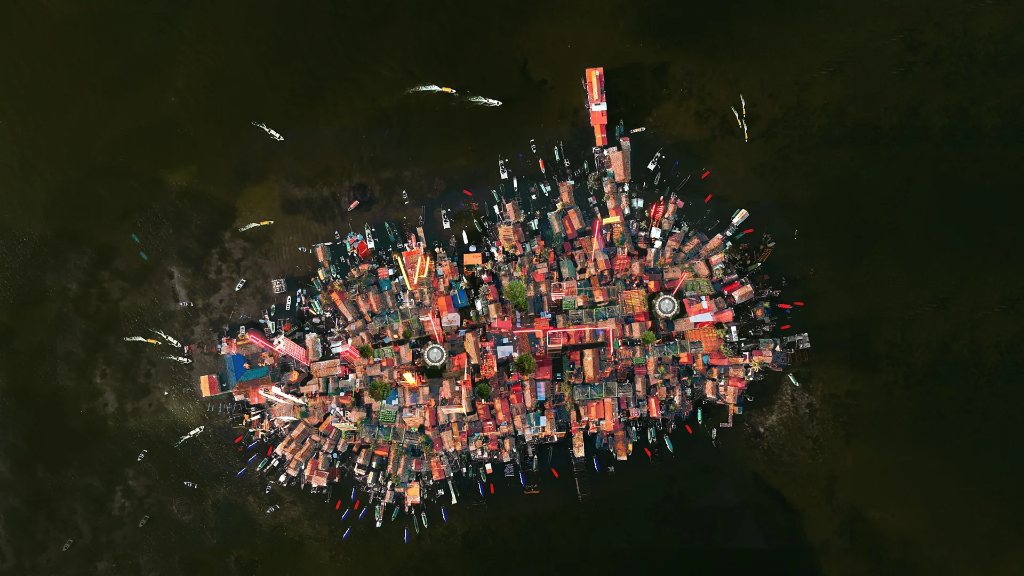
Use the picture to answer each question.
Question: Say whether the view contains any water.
Yes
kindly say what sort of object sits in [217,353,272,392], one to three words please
building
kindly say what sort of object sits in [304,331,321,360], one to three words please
house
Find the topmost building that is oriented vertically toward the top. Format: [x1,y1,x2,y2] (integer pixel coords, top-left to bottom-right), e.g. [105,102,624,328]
[585,66,609,126]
